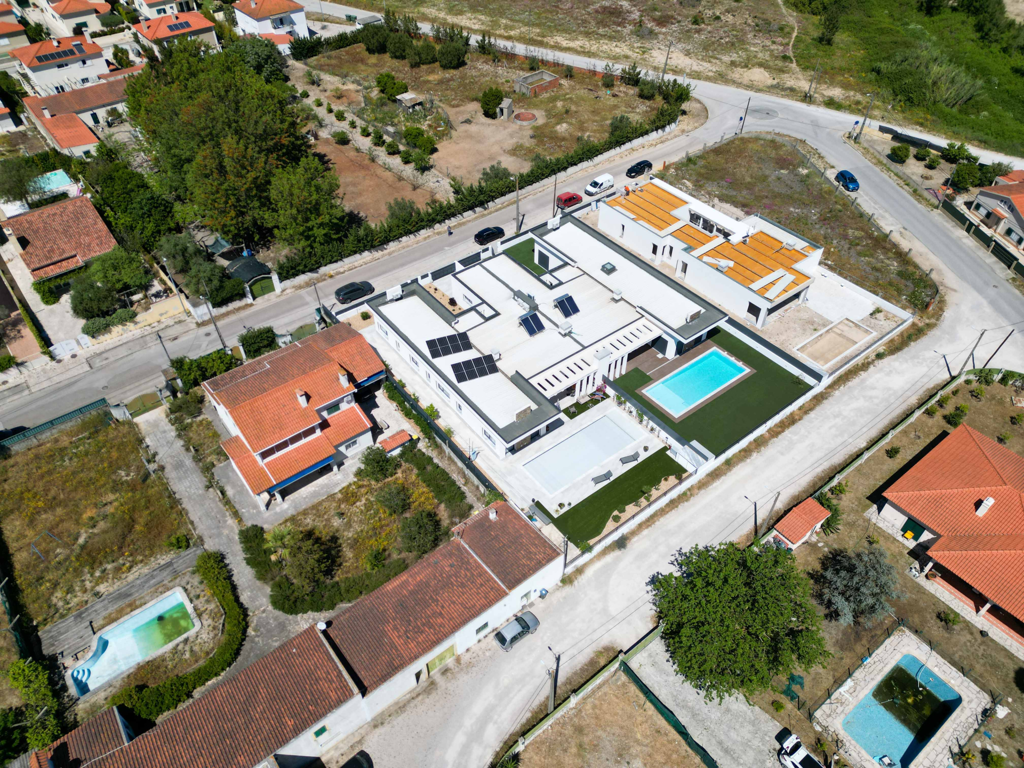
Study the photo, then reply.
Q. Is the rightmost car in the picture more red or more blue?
blue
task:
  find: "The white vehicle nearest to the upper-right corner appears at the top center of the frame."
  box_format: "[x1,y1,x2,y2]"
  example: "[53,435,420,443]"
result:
[585,171,615,196]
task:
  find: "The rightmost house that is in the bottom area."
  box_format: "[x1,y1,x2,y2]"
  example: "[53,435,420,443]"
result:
[882,421,1024,647]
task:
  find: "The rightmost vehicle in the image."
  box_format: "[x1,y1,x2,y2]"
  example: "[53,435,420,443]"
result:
[834,171,861,193]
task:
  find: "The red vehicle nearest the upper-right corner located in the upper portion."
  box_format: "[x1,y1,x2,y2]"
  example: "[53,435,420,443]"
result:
[556,189,584,211]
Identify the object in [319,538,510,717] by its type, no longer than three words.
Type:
barn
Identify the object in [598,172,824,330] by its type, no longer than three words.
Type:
house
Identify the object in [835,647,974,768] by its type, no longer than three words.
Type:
swimming pool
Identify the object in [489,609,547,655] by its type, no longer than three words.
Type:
car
